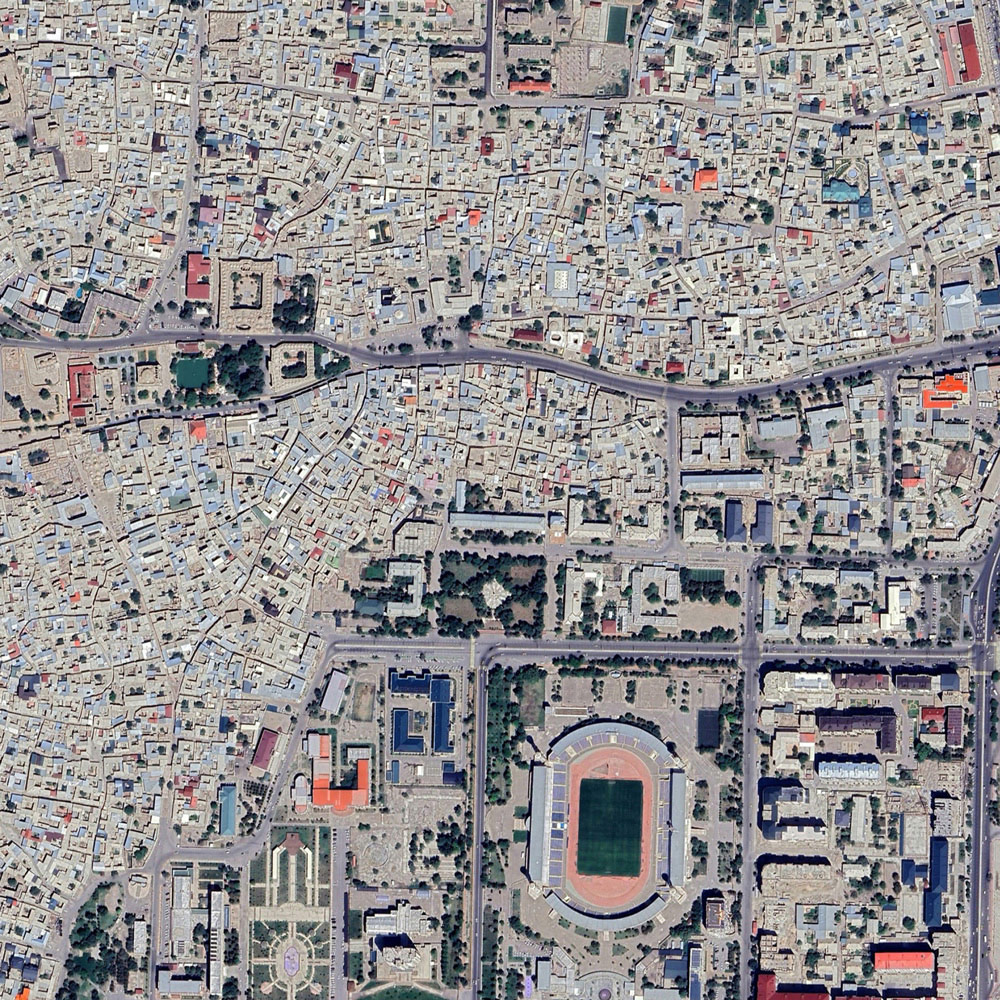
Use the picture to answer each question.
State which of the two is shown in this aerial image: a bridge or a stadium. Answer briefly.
stadium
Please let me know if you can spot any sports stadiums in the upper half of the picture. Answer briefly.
No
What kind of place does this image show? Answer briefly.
residential area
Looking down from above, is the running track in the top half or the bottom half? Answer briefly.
bottom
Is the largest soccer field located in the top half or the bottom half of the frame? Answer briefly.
bottom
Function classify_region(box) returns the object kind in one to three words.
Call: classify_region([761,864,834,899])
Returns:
building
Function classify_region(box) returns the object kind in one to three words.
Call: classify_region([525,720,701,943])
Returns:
stadium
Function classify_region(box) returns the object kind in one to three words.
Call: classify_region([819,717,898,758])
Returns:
building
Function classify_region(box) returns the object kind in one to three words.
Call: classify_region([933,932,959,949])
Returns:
house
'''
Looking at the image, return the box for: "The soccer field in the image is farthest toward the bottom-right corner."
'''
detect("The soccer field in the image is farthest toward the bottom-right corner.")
[578,779,643,876]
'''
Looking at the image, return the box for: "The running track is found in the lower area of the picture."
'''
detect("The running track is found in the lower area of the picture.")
[562,744,658,907]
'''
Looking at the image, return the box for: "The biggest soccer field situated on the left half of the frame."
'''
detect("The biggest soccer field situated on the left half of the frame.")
[354,682,374,721]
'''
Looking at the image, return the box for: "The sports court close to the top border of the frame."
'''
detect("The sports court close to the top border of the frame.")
[606,6,628,43]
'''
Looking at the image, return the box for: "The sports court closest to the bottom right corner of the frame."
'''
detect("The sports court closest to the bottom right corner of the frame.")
[698,710,718,748]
